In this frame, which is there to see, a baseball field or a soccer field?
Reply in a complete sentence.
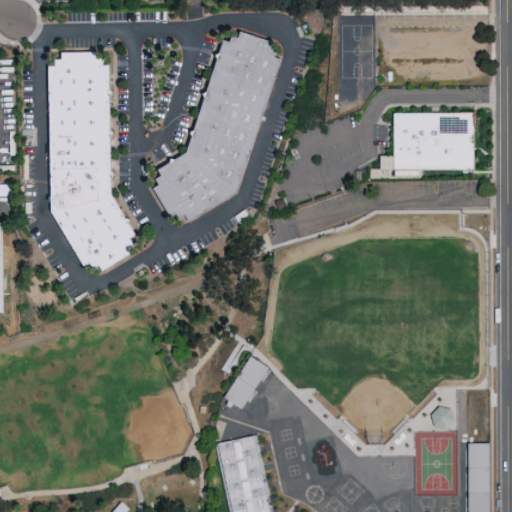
The image shows a baseball field.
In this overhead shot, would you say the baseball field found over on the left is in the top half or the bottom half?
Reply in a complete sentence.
Seen from above, the baseball field found over on the left lies in the bottom half of the view.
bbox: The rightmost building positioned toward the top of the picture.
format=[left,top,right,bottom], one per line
[394,112,475,170]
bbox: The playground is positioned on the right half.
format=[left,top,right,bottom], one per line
[312,440,337,475]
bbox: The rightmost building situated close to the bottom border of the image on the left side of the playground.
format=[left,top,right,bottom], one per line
[218,436,272,512]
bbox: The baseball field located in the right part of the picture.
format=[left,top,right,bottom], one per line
[263,213,486,444]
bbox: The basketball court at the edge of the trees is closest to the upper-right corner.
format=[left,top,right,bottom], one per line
[340,15,376,103]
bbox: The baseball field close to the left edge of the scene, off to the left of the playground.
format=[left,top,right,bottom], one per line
[0,319,194,492]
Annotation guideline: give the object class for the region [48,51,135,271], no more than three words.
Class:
building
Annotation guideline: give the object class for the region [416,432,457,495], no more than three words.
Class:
basketball court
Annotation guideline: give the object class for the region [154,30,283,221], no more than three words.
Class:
building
